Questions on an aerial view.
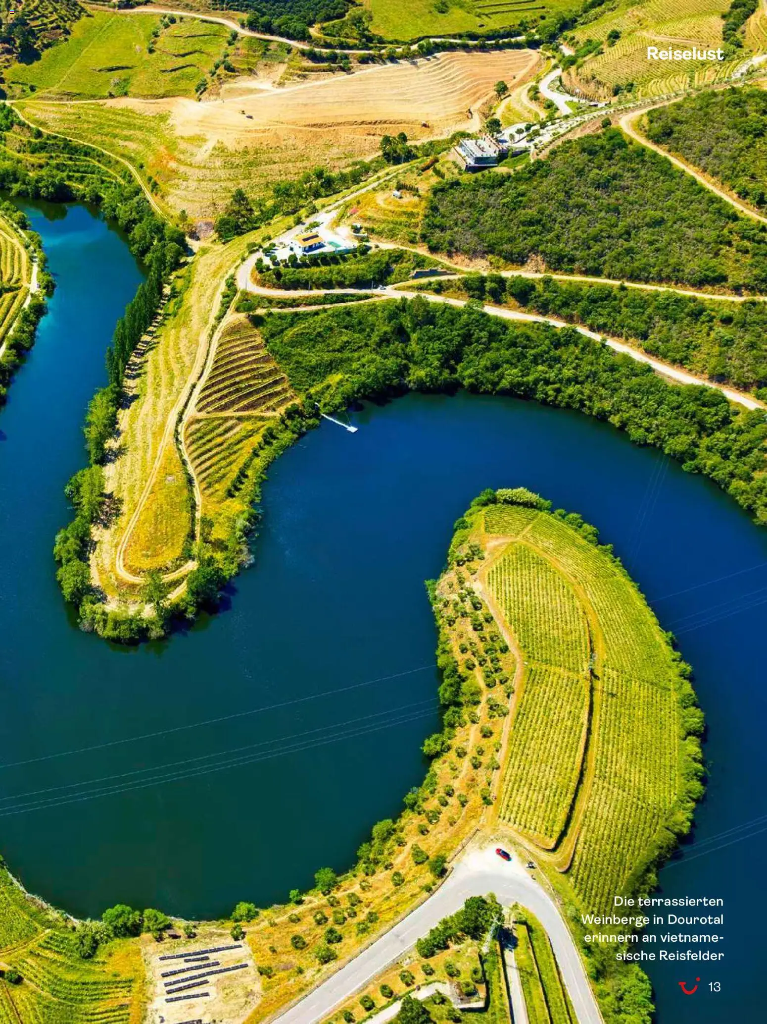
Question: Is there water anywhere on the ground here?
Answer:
Yes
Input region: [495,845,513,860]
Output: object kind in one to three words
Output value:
car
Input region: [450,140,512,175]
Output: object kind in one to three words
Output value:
building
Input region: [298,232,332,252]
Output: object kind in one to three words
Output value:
house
